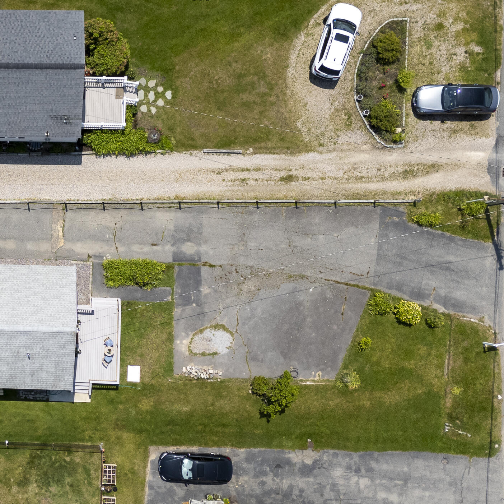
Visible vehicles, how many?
3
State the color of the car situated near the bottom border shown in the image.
black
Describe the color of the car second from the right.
white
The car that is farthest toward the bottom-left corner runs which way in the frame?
horizontally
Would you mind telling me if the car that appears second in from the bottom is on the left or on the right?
right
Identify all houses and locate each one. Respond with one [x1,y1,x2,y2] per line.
[0,9,85,143]
[0,265,76,391]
